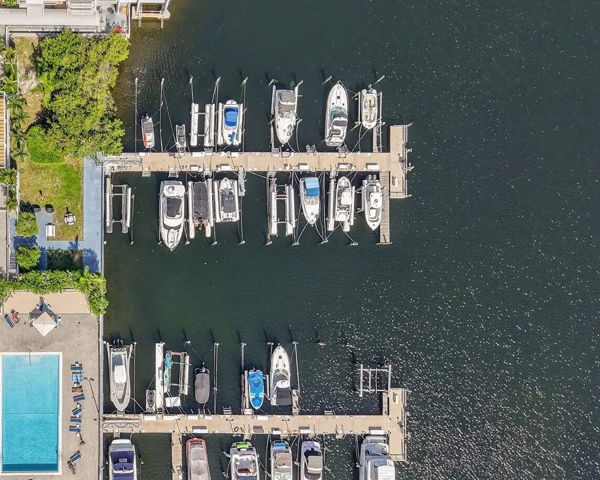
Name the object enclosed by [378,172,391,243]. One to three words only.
pier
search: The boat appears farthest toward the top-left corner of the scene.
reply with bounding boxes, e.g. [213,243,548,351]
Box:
[140,114,156,152]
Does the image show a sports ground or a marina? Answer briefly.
marina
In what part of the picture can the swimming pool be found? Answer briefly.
bottom left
